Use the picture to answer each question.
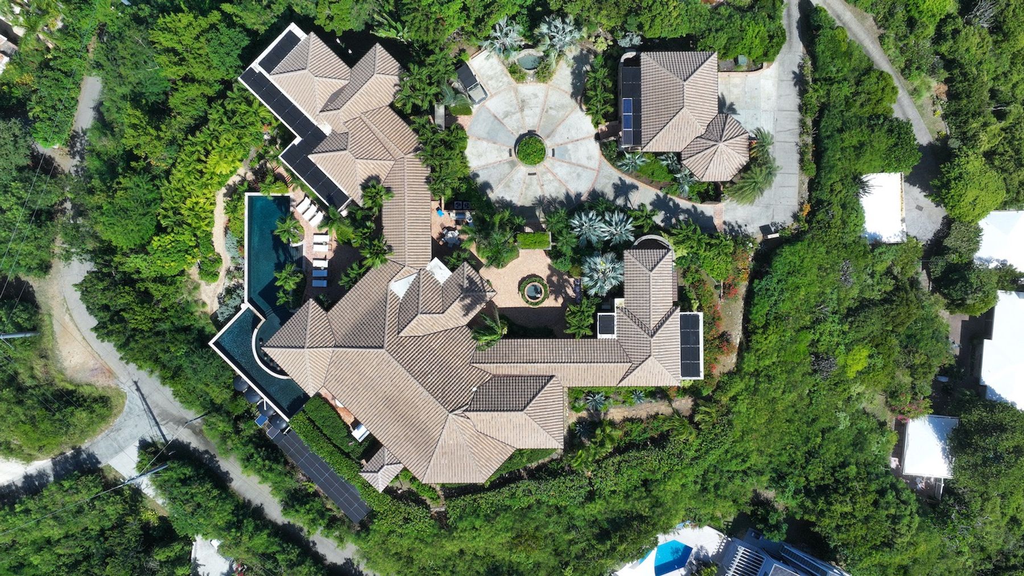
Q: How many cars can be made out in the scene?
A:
one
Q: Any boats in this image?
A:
No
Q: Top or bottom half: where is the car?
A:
top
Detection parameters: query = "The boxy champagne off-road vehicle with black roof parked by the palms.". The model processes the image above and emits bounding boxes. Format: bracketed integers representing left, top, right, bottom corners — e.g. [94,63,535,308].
[455,61,490,107]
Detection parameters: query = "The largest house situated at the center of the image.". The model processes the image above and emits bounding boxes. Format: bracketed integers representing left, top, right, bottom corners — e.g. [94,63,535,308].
[237,22,704,494]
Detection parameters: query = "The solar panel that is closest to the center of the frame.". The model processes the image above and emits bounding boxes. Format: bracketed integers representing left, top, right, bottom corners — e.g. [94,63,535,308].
[600,316,614,334]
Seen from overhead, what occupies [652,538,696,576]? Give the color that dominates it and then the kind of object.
blue swimming pool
